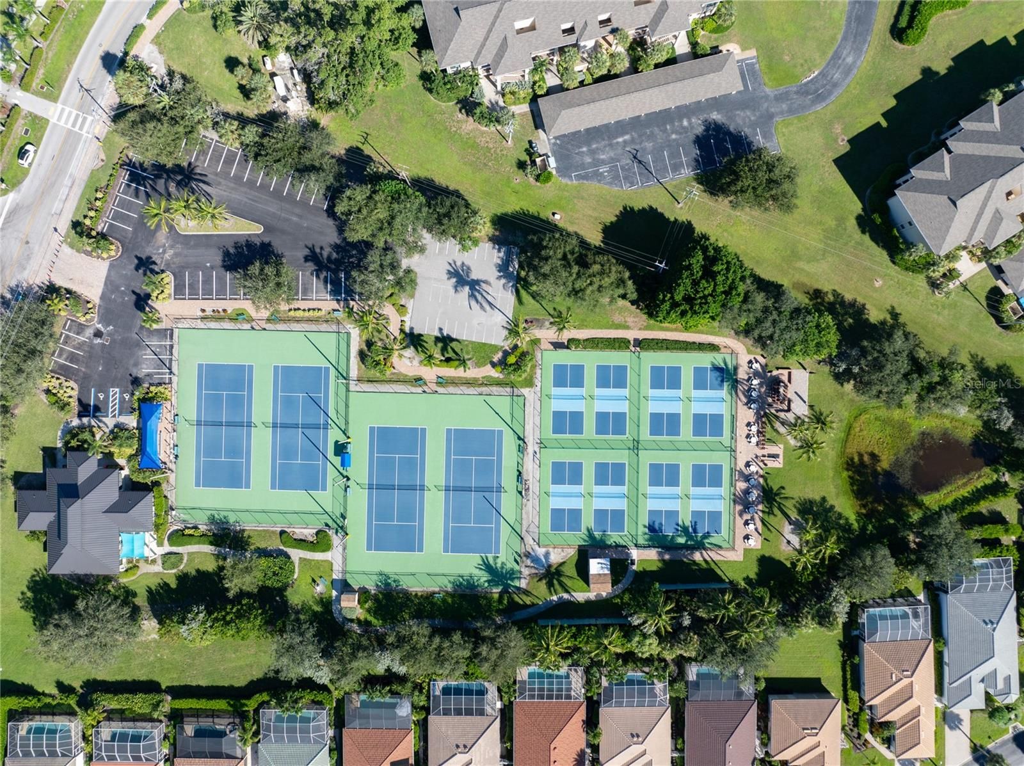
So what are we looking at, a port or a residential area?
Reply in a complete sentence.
This looks like a residential area.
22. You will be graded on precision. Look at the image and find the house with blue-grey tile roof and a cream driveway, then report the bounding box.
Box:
[941,590,1020,709]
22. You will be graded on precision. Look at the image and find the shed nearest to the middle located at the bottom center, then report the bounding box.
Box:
[589,556,611,593]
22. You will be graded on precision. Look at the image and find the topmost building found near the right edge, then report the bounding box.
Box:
[876,88,1024,259]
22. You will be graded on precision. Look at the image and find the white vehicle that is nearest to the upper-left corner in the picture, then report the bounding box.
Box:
[16,142,35,166]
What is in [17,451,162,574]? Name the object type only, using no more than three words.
building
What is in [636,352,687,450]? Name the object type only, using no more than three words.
sports court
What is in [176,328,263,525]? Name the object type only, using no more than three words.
tennis court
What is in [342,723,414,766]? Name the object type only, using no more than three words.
house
